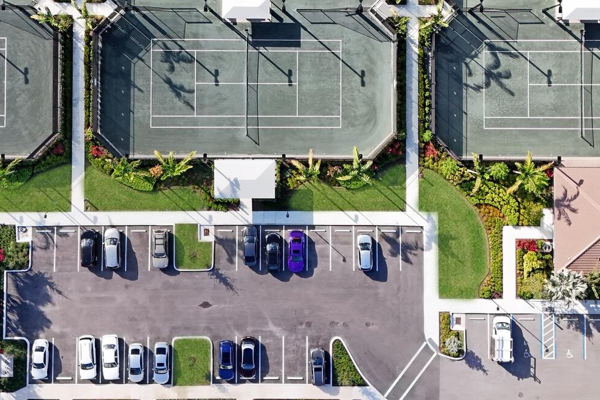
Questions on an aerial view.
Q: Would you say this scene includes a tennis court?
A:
Yes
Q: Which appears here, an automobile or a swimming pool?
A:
automobile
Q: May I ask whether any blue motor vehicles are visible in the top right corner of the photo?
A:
No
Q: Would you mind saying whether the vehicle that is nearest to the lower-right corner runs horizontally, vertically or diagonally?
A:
vertically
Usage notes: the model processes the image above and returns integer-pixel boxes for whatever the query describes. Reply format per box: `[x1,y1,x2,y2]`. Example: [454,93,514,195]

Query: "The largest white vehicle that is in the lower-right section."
[495,315,515,366]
